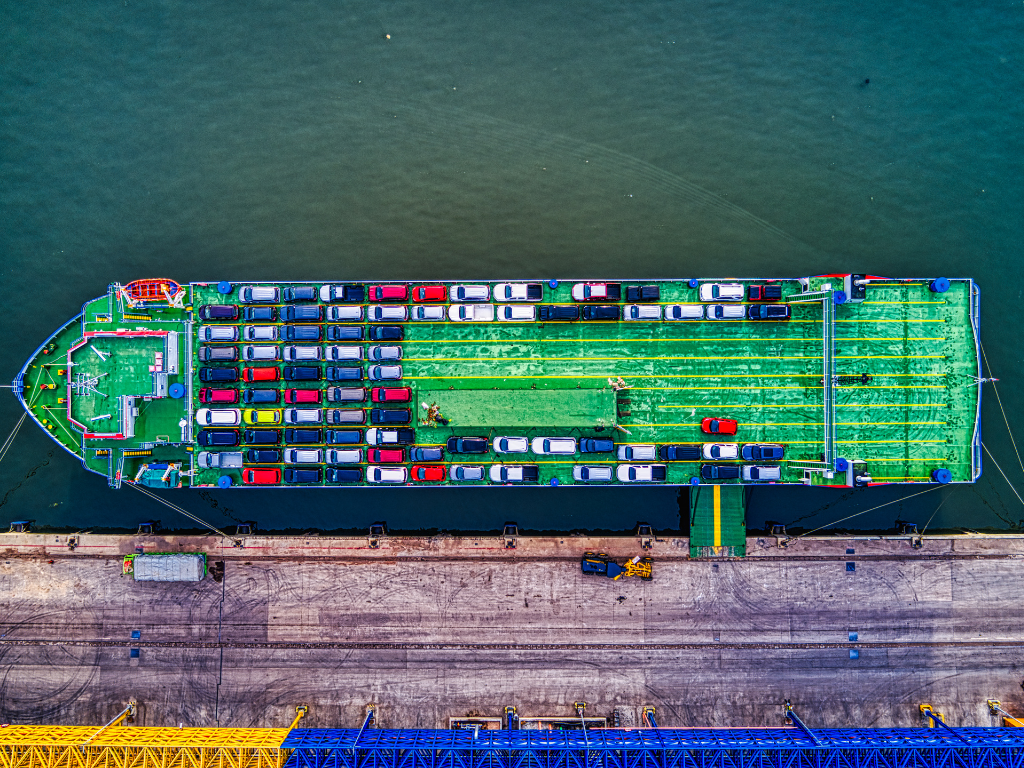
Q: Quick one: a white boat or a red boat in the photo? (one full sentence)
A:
Looking from above, you can make out a red boat.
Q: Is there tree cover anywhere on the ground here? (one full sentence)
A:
No, the picture contains no tree cover.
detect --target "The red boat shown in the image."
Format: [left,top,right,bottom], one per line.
[125,279,183,301]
